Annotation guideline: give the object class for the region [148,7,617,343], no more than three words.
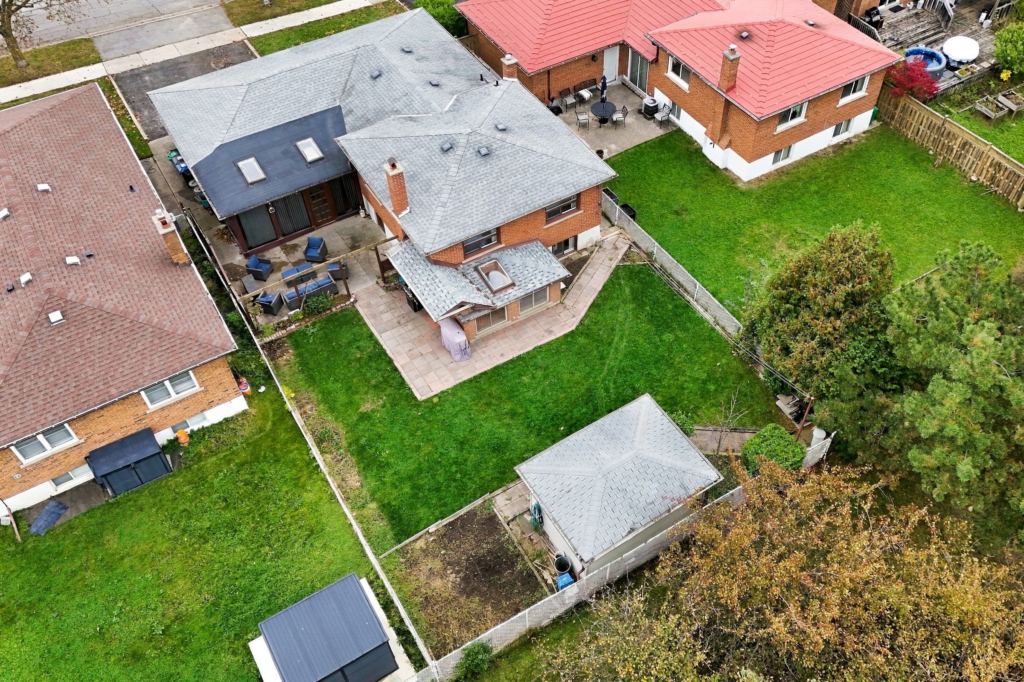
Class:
house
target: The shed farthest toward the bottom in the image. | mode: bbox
[255,569,398,682]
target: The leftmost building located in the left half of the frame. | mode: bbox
[0,84,248,516]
